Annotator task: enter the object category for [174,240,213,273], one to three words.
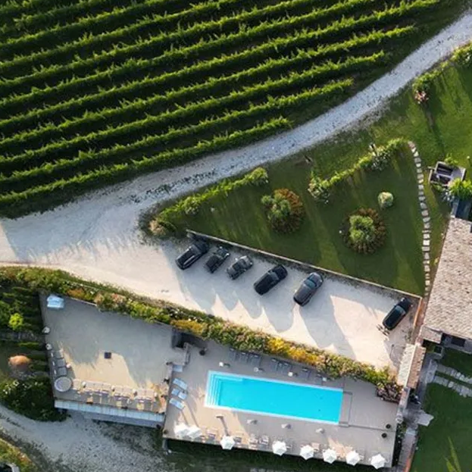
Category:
car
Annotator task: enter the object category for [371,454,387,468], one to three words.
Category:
umbrella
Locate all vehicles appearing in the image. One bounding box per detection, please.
[200,245,234,274]
[251,263,291,297]
[291,271,326,307]
[223,254,257,282]
[378,295,414,332]
[174,240,213,273]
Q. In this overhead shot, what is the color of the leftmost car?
black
